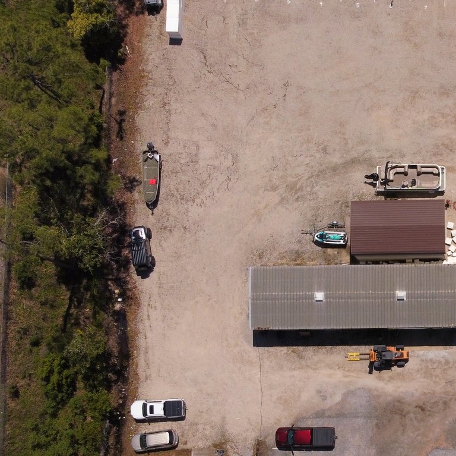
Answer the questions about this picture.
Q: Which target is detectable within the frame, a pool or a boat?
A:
boat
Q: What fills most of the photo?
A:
paved ground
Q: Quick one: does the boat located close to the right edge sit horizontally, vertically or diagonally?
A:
horizontally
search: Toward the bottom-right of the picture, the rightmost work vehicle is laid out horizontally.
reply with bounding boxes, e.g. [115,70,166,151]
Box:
[343,342,413,369]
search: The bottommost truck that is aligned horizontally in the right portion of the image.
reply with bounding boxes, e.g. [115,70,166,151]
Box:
[276,426,339,450]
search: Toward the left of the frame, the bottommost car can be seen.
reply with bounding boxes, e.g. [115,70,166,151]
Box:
[131,430,180,454]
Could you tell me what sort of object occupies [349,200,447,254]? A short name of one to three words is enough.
shed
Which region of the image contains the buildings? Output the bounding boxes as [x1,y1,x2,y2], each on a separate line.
[349,200,447,254]
[247,265,456,332]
